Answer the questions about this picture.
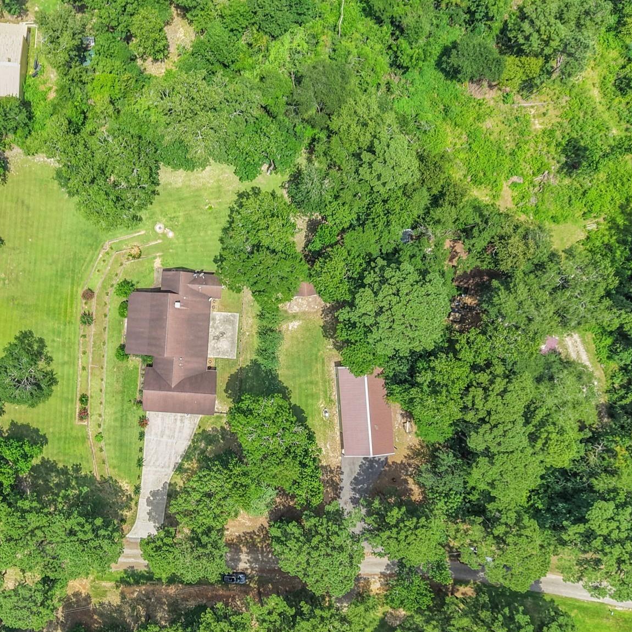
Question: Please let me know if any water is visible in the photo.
No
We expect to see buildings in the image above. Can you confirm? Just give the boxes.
[293,278,318,297]
[335,364,396,457]
[124,271,222,414]
[0,22,31,106]
[537,336,558,354]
